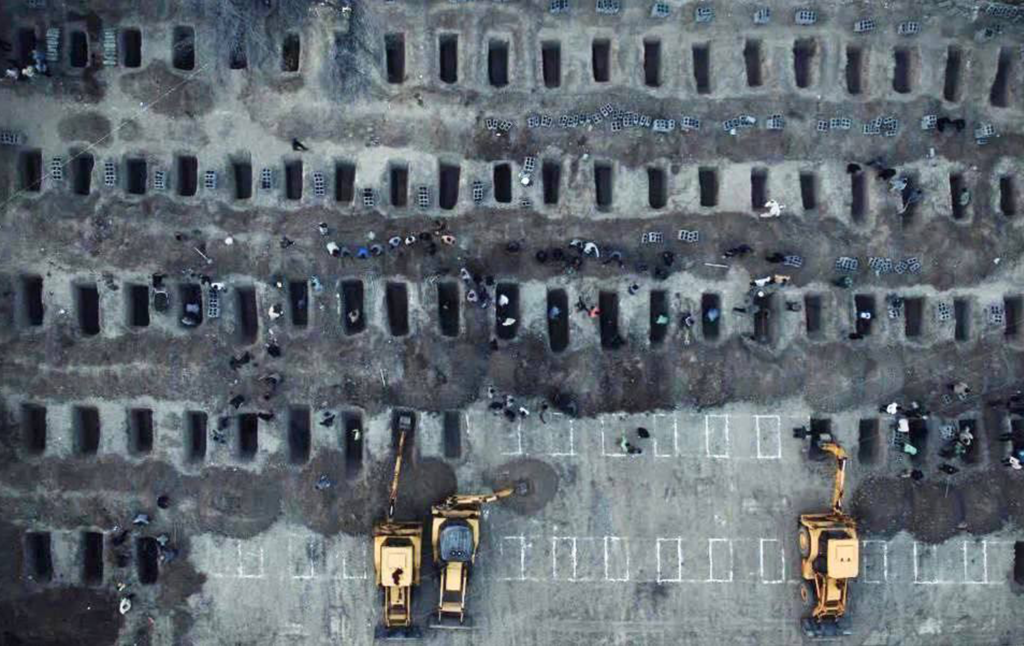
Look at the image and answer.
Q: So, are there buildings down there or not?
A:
No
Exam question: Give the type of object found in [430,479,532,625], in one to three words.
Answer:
work vehicle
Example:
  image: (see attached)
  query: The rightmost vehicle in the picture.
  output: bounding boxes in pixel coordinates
[801,430,860,642]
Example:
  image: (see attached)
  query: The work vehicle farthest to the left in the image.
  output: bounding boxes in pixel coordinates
[374,413,427,640]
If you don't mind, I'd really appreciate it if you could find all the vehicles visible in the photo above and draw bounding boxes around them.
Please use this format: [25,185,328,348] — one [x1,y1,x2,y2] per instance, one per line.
[430,479,532,625]
[801,430,860,642]
[374,413,427,640]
